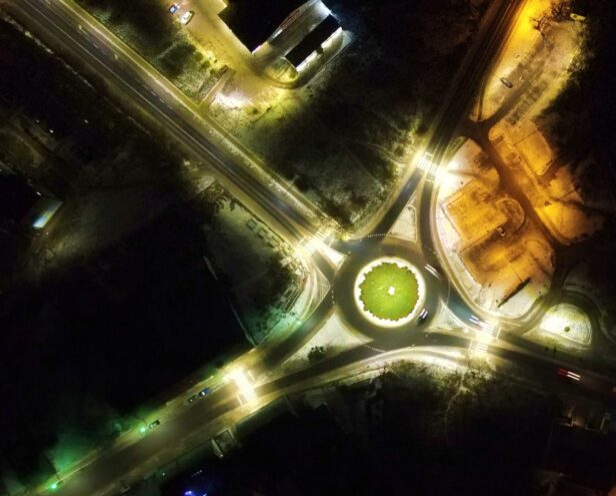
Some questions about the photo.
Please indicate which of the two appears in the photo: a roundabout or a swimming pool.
roundabout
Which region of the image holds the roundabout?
center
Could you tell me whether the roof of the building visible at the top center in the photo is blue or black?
black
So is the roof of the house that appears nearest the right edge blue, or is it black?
black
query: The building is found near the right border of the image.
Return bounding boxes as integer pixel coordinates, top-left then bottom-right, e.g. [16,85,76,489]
[545,422,616,494]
